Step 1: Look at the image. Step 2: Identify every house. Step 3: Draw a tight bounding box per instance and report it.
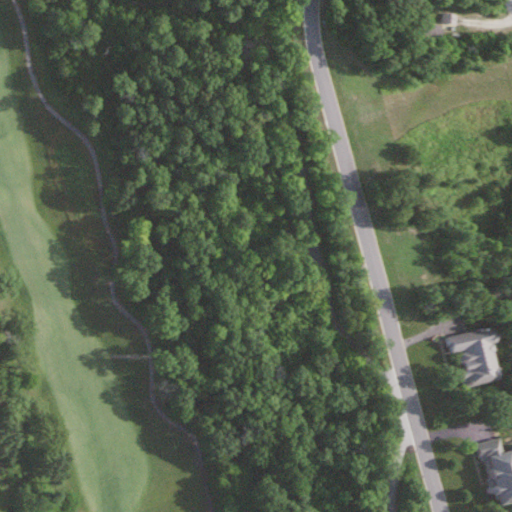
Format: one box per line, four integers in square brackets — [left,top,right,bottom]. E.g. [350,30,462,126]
[446,328,503,384]
[478,439,512,508]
